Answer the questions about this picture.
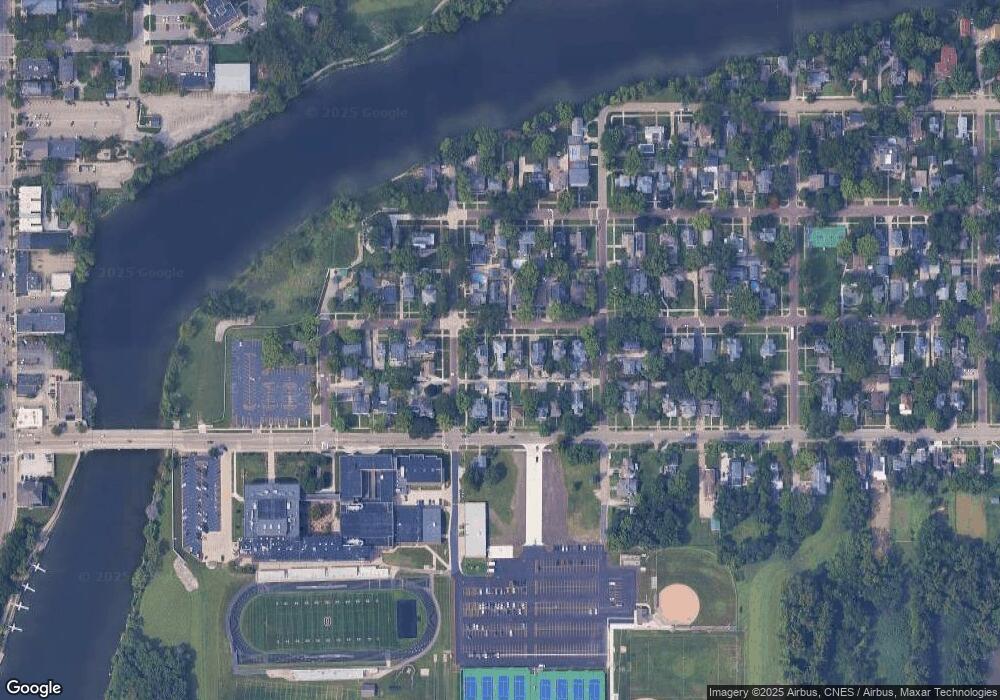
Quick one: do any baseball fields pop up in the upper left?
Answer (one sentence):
No, no baseball field is visible in the upper left.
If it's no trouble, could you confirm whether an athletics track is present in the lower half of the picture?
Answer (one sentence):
Yes, you'll find an athletics track in the lower half of the picture.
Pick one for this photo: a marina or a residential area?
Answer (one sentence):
The picture captures a residential area.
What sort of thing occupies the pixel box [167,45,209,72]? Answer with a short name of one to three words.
building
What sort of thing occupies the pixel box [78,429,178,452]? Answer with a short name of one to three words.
bridge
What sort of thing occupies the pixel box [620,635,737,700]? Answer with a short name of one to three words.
soccer field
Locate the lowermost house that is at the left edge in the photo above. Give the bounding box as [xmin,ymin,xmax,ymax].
[16,478,48,508]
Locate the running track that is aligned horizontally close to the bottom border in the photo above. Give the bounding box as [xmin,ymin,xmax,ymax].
[228,577,438,674]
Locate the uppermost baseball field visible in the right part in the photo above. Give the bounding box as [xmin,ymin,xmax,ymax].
[650,548,737,628]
